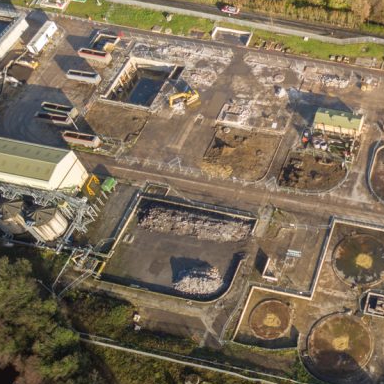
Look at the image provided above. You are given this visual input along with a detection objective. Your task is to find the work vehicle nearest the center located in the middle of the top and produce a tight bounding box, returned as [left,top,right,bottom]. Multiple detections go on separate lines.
[166,90,202,109]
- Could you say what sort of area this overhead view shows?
industrial area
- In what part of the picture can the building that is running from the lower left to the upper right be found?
top left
